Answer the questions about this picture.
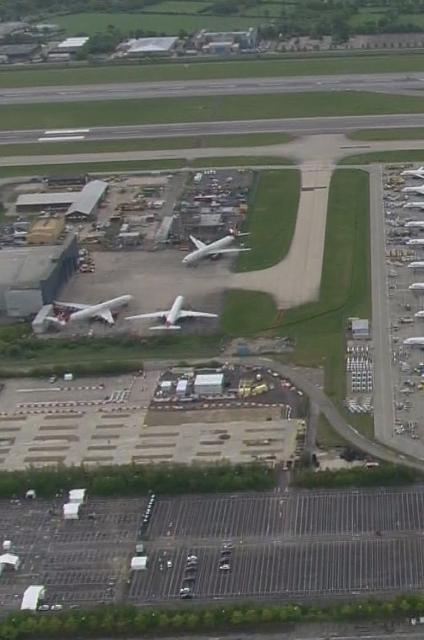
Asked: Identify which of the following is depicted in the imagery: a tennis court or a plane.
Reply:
plane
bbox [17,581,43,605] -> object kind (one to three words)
tent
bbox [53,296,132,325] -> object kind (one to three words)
airplane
